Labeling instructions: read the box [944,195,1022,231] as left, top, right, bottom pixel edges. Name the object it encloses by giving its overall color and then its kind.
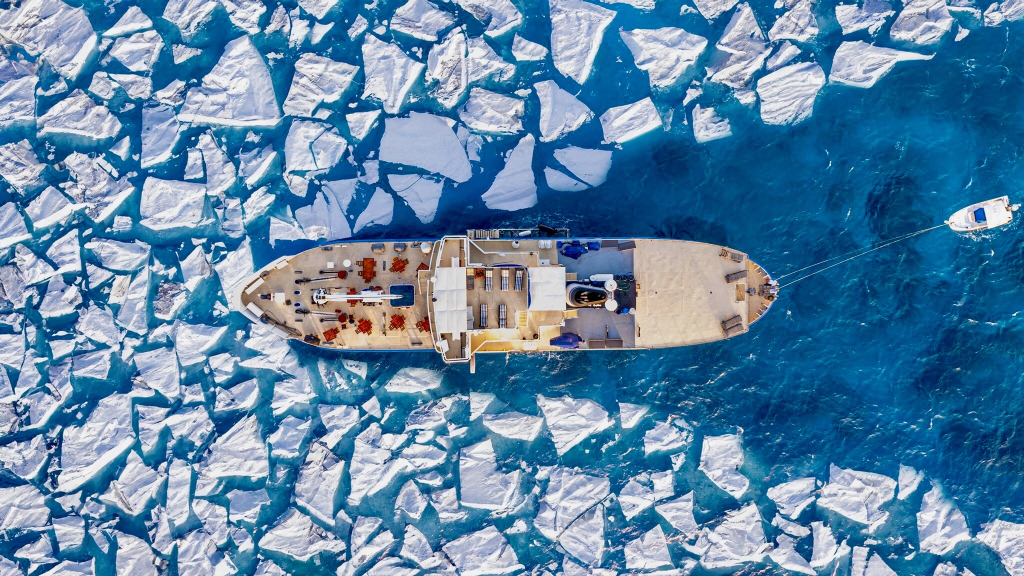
white boat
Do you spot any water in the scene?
Yes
